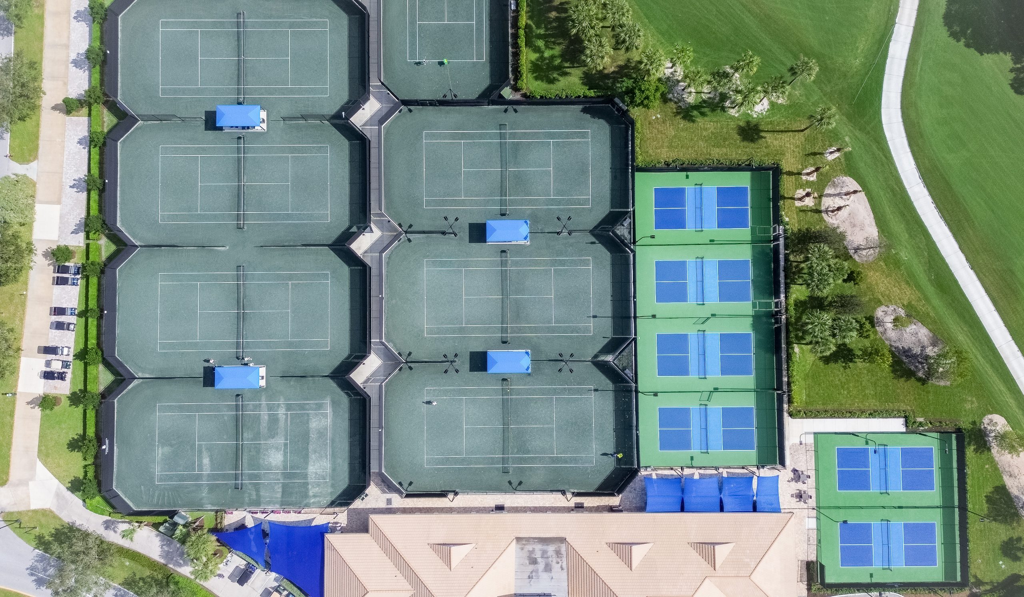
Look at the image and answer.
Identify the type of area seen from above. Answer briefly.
sports ground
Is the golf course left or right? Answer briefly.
right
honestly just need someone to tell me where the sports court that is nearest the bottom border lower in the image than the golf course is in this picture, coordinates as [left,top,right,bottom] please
[817,509,960,583]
